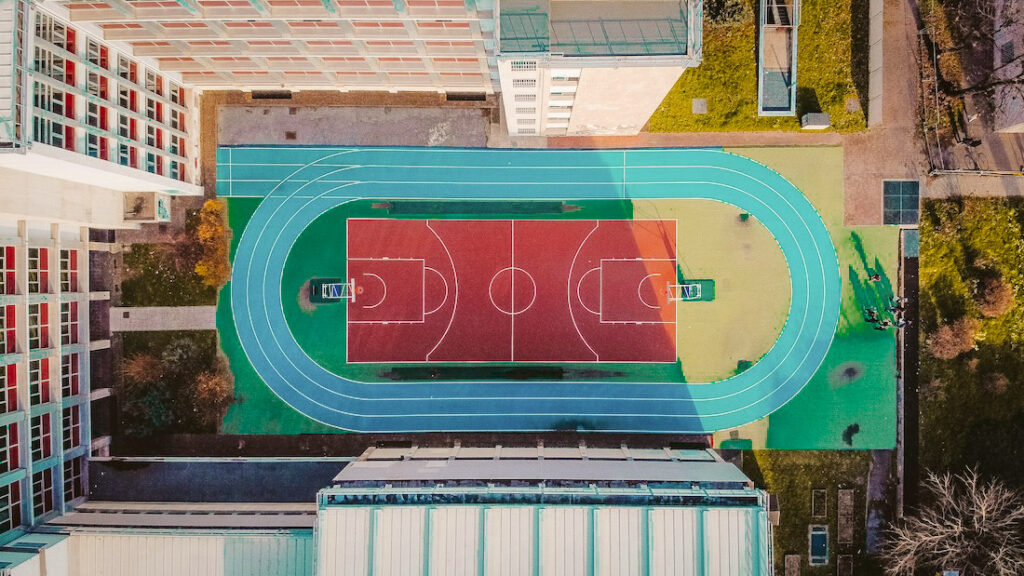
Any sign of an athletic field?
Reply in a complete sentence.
Yes, there's an athletic field down there.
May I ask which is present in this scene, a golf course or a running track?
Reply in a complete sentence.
Visible in the photo is a running track.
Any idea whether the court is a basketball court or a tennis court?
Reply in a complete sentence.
What you see as the court is a basketball court.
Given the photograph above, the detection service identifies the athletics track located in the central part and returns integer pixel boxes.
[217,146,840,432]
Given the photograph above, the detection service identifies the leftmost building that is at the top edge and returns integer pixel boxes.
[0,0,205,188]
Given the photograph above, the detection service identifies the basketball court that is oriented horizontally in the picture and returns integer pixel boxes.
[347,219,677,363]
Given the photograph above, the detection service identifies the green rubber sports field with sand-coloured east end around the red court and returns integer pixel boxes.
[217,147,897,448]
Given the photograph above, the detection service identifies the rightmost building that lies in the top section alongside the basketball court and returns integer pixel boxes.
[494,0,704,134]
